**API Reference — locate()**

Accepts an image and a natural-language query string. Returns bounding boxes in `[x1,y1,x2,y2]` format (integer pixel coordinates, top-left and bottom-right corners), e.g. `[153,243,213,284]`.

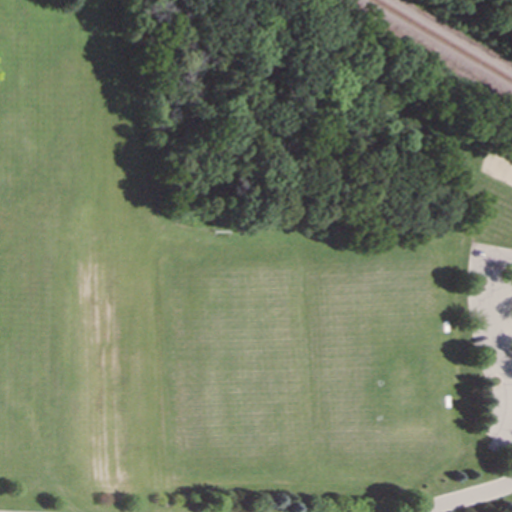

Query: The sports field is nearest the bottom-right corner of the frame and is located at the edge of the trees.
[317,250,446,464]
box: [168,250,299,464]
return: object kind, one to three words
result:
sports field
